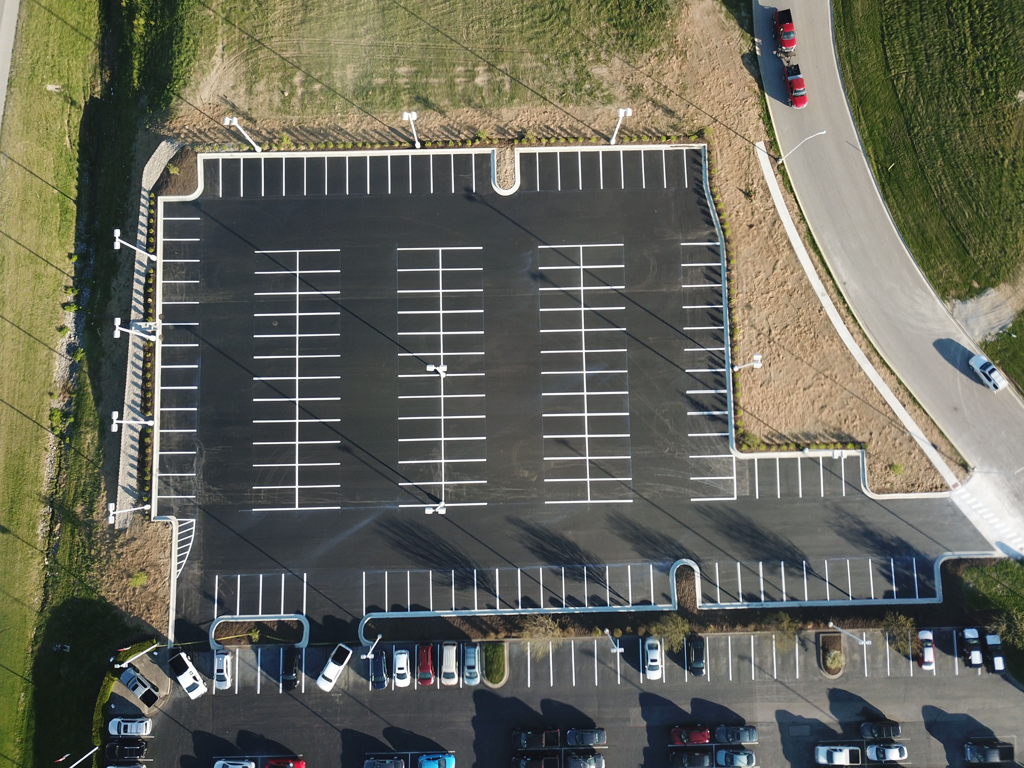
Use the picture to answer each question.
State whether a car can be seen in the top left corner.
No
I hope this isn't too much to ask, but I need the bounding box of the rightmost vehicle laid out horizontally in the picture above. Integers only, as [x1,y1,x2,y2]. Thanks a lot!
[964,741,1014,764]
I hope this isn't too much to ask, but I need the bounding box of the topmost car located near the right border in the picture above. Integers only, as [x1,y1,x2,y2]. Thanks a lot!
[970,354,1007,394]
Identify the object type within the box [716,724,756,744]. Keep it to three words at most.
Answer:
car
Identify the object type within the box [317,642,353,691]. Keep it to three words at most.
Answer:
truck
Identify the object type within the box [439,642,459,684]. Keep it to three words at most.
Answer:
vehicle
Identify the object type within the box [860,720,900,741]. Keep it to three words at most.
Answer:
car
